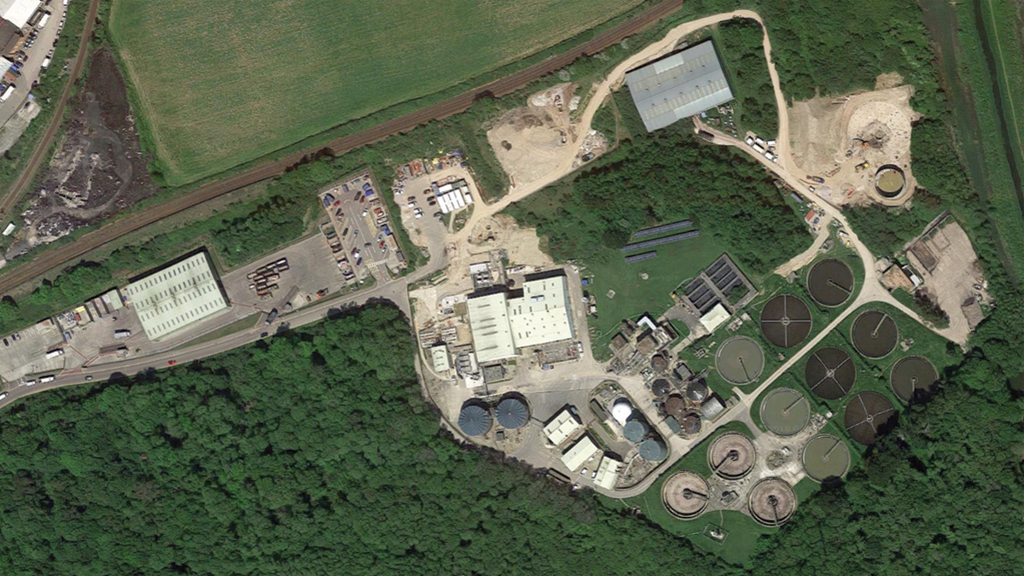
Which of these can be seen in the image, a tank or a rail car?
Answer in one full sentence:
Visible in the photo is a tank.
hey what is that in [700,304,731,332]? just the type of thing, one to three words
building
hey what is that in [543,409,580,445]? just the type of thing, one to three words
shed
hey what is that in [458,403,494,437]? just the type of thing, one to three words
storage tank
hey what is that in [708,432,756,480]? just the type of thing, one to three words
storage tank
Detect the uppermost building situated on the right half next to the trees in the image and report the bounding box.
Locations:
[626,40,735,132]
